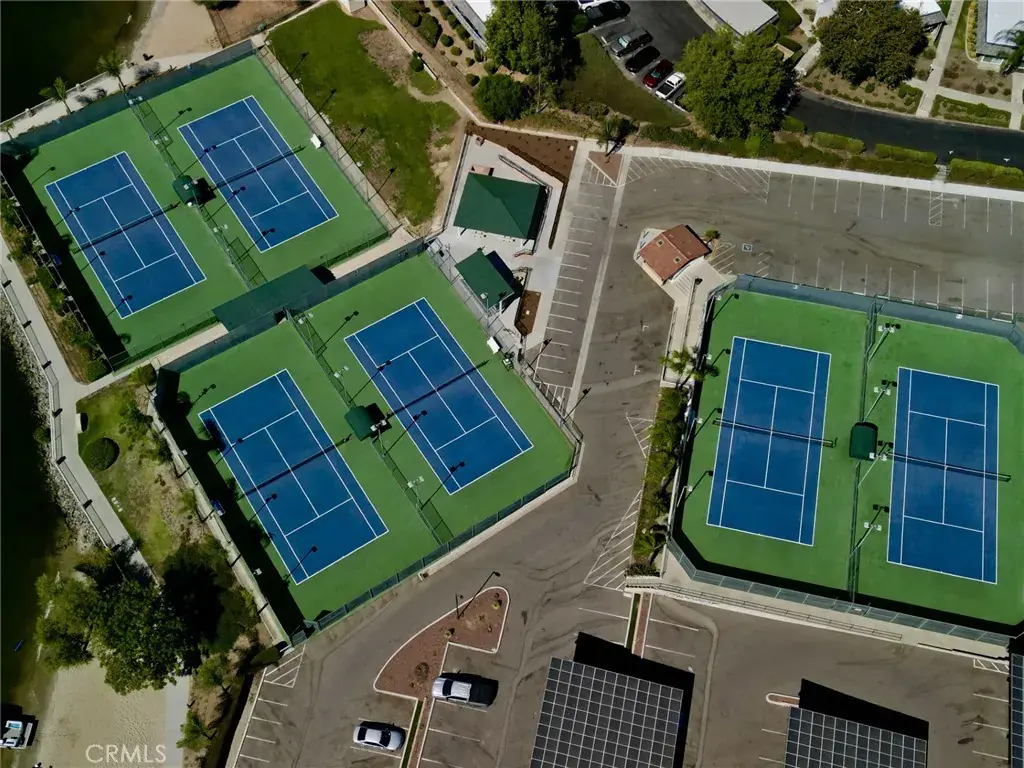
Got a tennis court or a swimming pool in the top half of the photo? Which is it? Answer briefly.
tennis court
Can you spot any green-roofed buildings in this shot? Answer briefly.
Yes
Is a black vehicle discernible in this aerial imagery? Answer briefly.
Yes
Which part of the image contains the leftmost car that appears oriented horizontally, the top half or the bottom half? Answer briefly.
bottom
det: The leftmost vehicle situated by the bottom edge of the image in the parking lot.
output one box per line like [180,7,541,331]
[353,723,406,750]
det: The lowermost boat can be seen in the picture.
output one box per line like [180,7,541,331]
[0,715,36,756]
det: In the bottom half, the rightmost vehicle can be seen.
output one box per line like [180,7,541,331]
[431,676,492,707]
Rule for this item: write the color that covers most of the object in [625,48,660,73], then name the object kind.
black car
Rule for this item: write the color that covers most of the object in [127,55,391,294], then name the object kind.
green tennis court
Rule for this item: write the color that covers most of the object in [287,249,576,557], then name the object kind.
green tennis court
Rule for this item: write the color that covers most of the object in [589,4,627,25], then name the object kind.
black car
